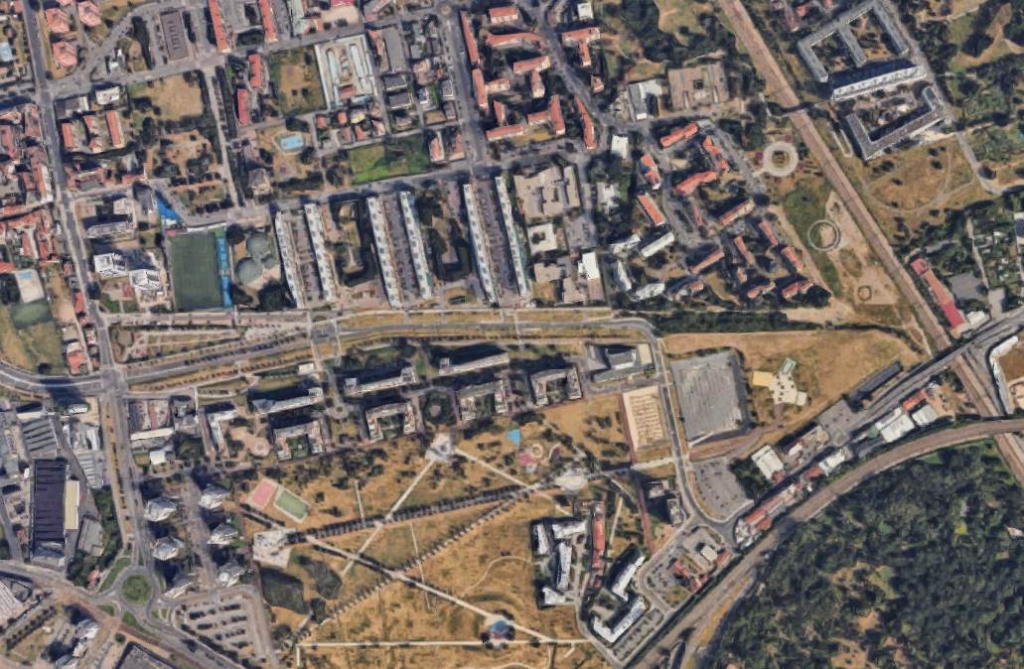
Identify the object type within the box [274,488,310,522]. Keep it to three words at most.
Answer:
sports court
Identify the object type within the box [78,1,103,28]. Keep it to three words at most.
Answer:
house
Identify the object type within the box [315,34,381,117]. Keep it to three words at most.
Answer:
building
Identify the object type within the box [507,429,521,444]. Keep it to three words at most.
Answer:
swimming pool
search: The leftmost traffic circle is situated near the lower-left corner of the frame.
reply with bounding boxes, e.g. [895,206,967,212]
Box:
[116,567,160,612]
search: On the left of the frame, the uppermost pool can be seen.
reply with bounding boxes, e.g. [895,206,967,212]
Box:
[273,131,310,155]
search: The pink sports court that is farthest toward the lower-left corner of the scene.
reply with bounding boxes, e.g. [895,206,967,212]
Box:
[250,478,279,509]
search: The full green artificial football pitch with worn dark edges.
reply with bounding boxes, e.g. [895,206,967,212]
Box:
[169,230,223,312]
